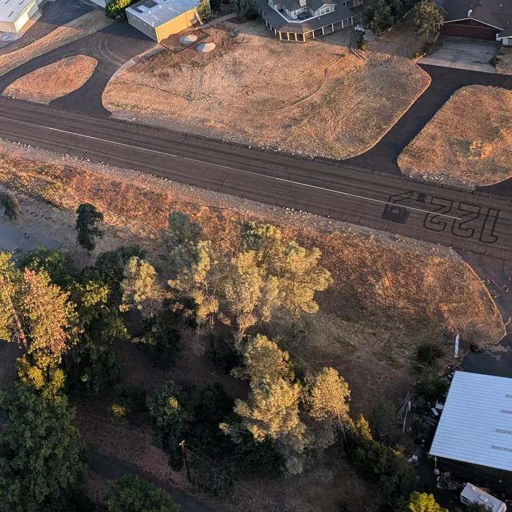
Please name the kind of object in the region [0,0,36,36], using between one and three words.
hangar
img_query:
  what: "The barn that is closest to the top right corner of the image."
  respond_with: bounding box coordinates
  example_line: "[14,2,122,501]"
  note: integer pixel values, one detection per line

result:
[438,0,512,64]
